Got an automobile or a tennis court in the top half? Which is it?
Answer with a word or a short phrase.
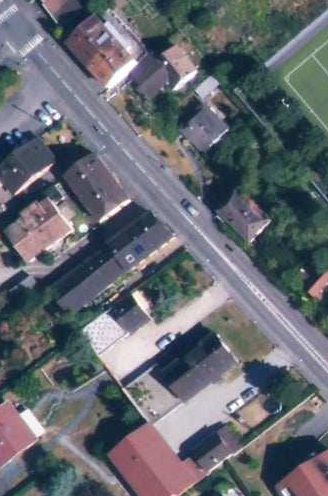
automobile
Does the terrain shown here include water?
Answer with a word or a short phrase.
No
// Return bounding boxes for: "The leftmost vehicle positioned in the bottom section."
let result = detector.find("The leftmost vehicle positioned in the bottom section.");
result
[157,333,174,348]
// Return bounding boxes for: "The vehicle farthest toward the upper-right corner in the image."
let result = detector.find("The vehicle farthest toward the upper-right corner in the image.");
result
[181,199,198,215]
